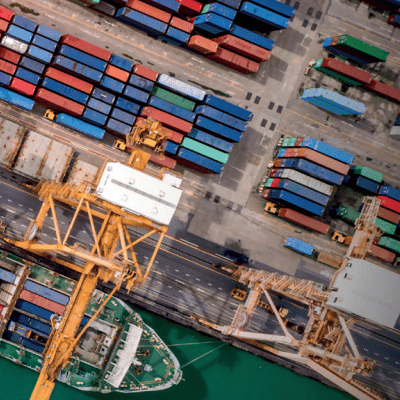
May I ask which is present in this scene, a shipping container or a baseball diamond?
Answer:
shipping container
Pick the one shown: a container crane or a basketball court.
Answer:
container crane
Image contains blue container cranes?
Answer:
No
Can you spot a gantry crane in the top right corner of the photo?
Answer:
No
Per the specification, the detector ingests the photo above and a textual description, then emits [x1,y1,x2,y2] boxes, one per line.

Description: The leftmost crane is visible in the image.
[0,113,181,400]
